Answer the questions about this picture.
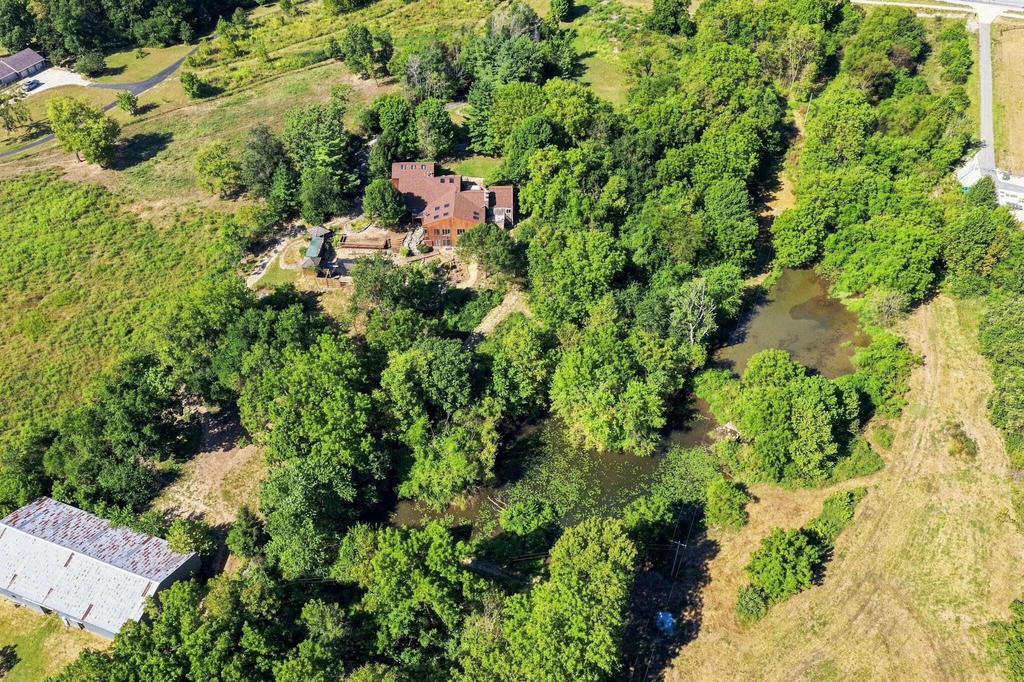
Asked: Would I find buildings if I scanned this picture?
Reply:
Yes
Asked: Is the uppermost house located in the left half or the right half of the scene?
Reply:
left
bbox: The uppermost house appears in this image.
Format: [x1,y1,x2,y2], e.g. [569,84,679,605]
[0,49,49,88]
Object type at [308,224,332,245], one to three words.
building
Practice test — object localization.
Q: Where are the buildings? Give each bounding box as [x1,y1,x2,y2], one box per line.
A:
[296,259,321,282]
[0,49,49,88]
[390,162,514,249]
[308,224,332,245]
[0,487,200,655]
